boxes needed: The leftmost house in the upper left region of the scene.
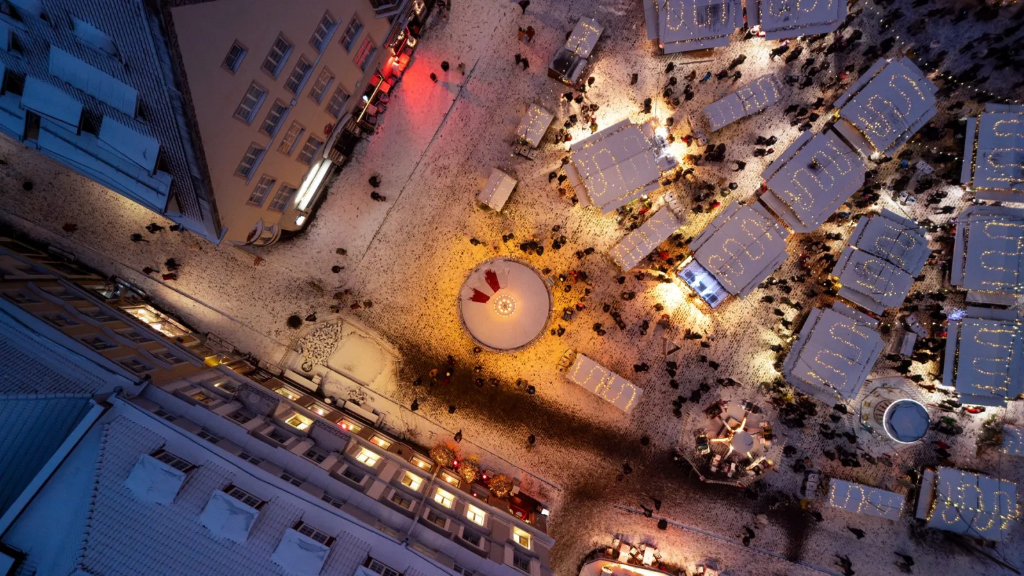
[0,0,433,251]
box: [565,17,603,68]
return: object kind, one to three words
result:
shed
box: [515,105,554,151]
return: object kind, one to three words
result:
shed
